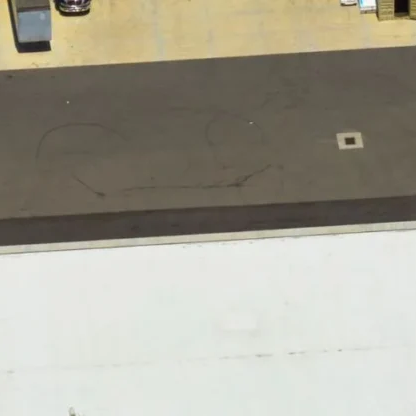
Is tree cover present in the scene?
No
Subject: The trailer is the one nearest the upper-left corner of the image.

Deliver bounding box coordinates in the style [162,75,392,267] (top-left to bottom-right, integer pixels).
[15,0,52,51]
